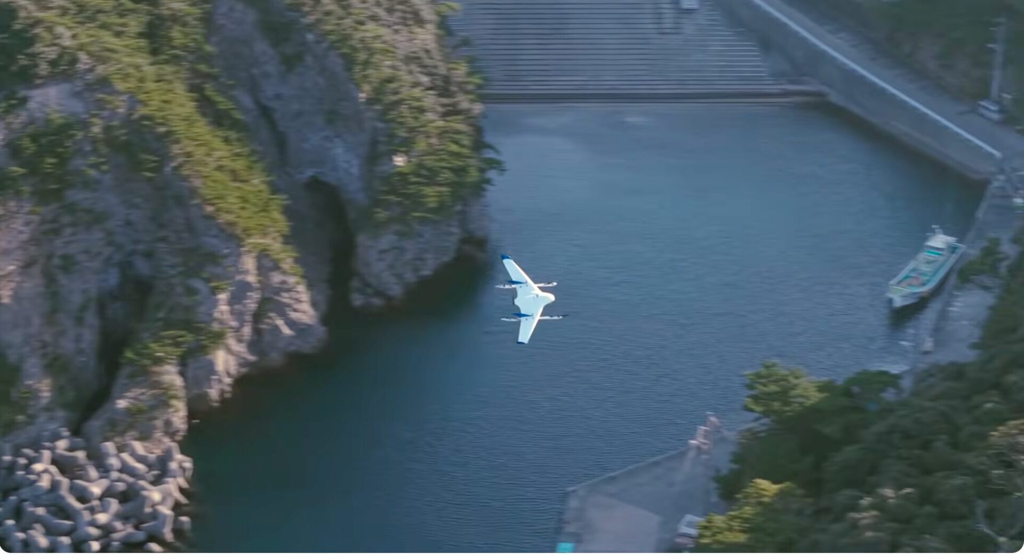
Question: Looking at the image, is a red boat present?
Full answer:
No, no red boat can be seen from above.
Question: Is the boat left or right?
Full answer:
You can find the boat on the right side of the picture.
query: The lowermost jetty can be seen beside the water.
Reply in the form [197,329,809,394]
[557,413,782,554]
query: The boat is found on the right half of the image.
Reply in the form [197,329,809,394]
[887,225,966,313]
